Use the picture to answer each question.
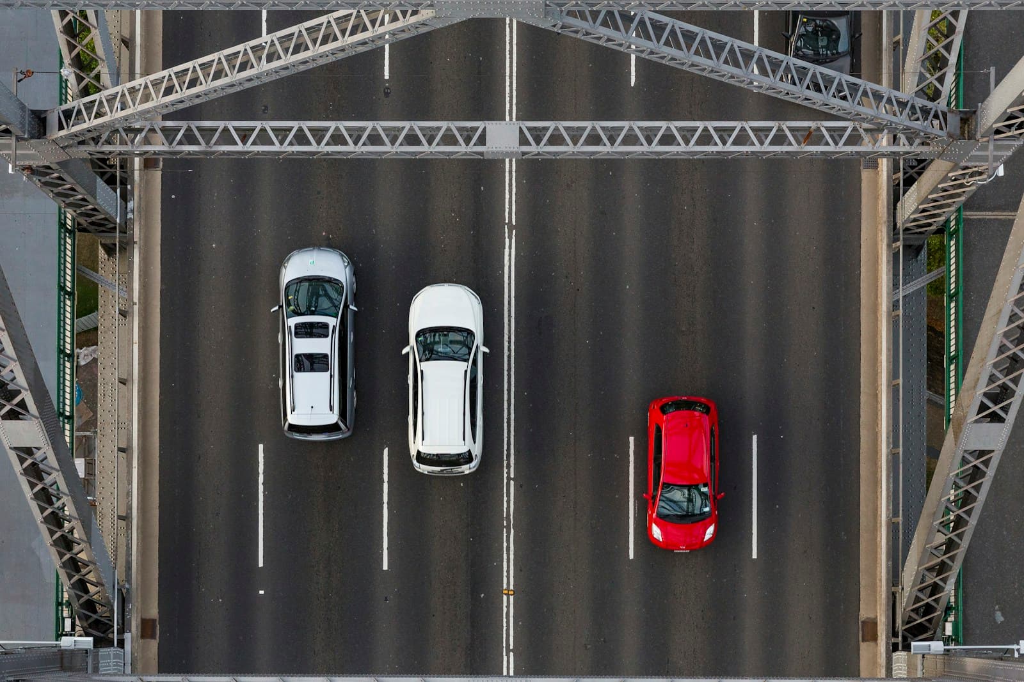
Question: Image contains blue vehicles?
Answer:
No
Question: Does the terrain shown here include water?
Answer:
No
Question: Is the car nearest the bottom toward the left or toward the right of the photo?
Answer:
right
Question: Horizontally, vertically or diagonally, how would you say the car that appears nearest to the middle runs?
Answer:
vertically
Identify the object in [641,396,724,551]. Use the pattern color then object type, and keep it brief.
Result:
red car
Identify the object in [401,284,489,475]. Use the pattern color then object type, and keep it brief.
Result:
white car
